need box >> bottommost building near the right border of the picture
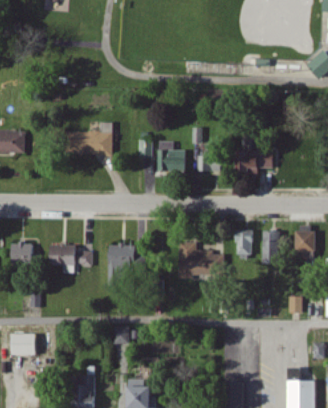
[286,369,316,408]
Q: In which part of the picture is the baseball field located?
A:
top right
